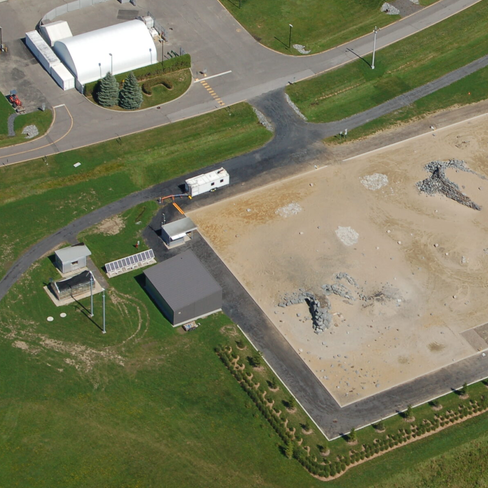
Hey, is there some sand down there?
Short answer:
Yes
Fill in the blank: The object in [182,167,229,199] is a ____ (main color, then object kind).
white trailer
